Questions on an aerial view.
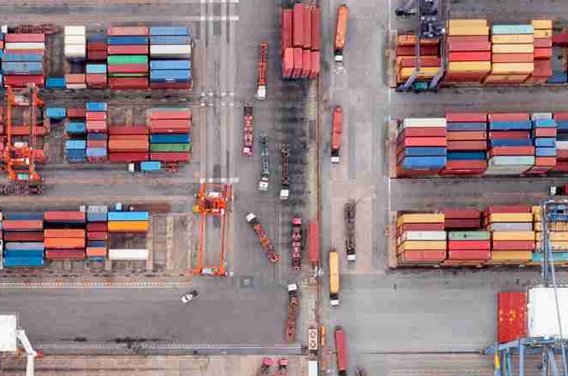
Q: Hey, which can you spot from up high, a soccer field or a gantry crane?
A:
gantry crane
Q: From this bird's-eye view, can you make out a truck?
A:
Yes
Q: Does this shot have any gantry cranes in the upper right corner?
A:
Yes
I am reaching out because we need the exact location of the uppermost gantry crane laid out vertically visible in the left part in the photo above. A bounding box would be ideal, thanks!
[4,80,50,180]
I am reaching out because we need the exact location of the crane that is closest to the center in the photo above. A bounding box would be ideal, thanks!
[193,180,234,273]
